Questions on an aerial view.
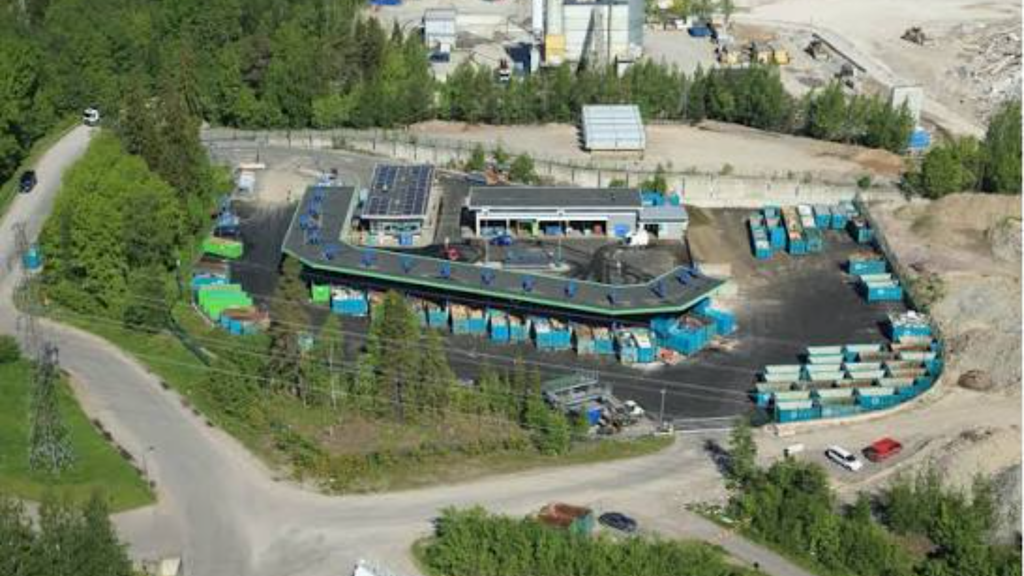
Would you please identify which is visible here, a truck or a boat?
truck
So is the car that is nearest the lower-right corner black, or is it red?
red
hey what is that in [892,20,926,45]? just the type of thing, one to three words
work vehicle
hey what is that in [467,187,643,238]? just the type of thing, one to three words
building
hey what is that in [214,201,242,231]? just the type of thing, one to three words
truck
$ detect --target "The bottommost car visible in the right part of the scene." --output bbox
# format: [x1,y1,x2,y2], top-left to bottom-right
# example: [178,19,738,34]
[598,510,640,535]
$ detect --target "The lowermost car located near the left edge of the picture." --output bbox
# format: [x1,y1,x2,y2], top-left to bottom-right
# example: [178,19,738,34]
[12,177,39,193]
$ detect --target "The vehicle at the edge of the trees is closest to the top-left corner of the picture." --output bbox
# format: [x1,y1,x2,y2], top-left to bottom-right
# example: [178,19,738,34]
[81,108,100,129]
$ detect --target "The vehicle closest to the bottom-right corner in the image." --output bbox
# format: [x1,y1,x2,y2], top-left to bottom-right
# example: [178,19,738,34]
[864,437,905,464]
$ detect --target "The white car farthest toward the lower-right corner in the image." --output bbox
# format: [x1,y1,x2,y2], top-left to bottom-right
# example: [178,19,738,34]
[823,443,864,471]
